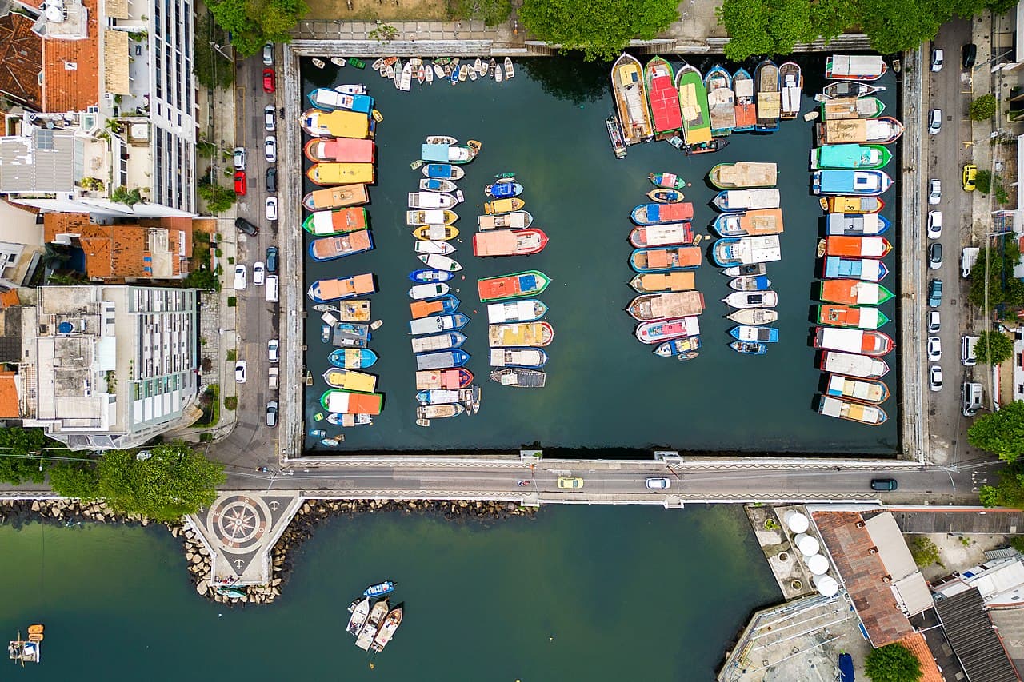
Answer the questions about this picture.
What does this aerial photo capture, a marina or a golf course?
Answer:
marina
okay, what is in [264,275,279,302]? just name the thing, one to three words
vehicle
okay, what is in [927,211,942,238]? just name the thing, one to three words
car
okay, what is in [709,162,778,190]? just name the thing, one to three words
boat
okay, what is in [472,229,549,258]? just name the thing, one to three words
boat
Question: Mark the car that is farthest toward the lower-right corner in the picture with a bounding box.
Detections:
[869,478,898,492]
